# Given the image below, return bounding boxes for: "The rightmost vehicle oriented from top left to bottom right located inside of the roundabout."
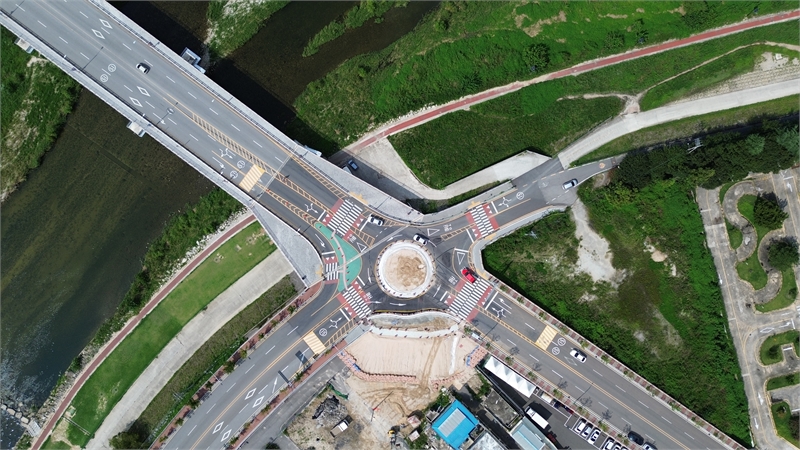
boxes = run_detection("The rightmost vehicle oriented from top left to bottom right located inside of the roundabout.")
[459,266,478,285]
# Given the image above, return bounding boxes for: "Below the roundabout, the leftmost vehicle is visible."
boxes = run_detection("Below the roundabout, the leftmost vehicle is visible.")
[330,420,350,438]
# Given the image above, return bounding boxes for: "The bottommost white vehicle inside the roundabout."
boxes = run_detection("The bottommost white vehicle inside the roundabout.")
[412,234,428,247]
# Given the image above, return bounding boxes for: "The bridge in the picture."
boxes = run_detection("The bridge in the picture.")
[0,0,352,209]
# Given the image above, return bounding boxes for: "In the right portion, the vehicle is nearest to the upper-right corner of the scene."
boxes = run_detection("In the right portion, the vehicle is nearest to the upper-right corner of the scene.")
[561,178,579,191]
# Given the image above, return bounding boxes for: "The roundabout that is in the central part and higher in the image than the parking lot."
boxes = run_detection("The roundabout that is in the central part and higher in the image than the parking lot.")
[255,152,567,322]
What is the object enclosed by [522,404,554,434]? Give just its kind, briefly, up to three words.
truck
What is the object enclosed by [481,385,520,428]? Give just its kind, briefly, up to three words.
building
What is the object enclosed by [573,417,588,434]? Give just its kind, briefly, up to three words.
car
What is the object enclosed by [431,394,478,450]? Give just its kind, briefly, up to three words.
building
